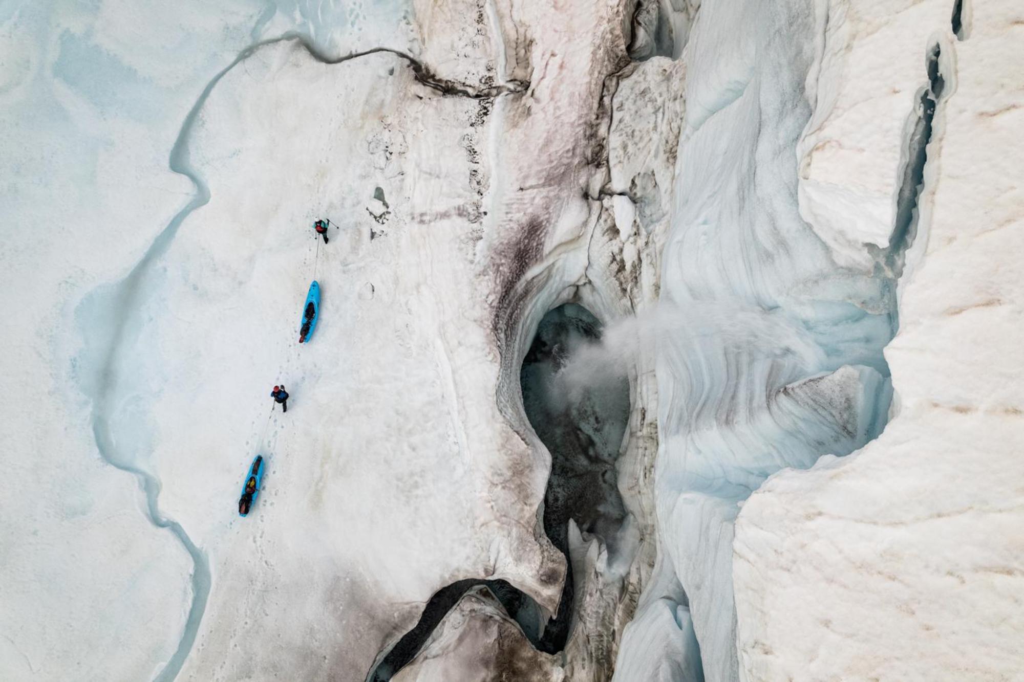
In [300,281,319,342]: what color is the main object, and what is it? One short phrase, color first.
blue boat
